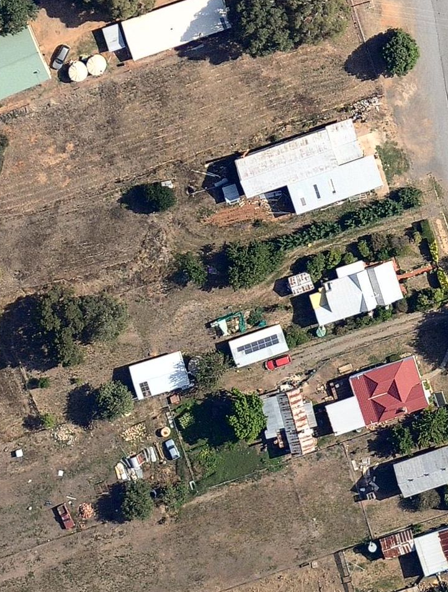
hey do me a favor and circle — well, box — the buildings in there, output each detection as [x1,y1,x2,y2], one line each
[102,23,125,51]
[263,388,318,457]
[393,445,448,498]
[223,184,240,204]
[326,357,431,436]
[0,27,50,99]
[121,0,230,60]
[381,529,415,559]
[289,272,313,295]
[414,526,448,577]
[235,119,383,214]
[310,261,404,326]
[229,324,289,368]
[129,351,190,400]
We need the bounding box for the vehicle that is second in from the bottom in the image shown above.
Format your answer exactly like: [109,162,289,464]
[165,437,180,462]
